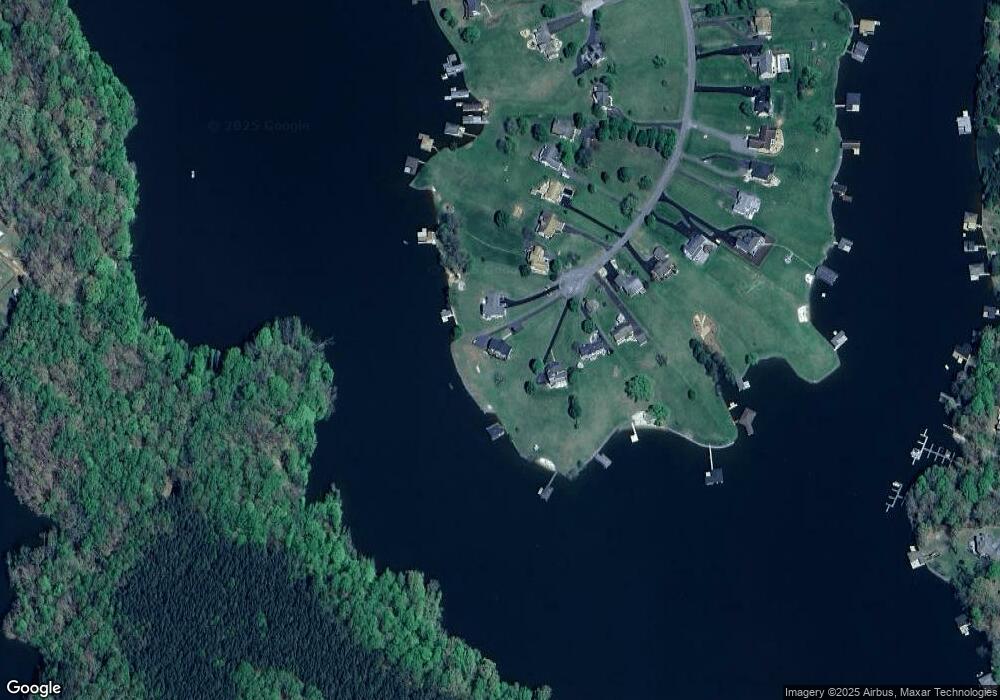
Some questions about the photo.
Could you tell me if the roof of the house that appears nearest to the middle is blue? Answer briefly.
Yes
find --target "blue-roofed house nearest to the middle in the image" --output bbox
[483,336,514,359]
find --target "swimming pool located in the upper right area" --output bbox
[777,54,791,72]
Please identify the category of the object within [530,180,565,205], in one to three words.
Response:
house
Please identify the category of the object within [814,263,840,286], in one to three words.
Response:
building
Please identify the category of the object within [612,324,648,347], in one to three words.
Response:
house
